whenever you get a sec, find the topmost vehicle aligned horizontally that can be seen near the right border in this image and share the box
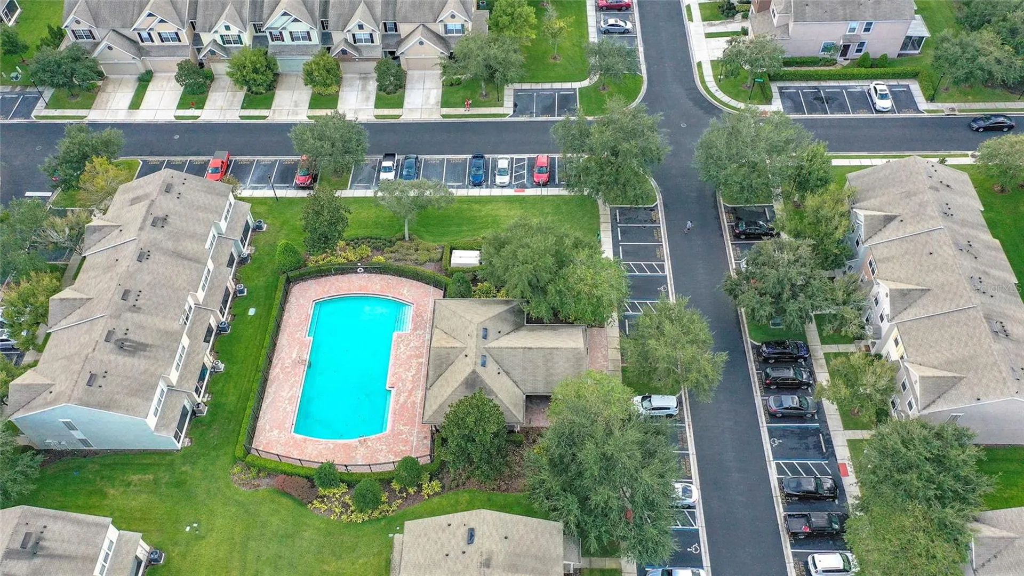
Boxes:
[970,115,1015,133]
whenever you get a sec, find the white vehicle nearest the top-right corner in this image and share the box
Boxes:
[866,85,892,113]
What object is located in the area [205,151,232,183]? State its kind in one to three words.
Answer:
truck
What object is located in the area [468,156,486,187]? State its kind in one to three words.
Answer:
car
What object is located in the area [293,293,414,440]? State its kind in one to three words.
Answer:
swimming pool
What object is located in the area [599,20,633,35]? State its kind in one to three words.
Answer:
car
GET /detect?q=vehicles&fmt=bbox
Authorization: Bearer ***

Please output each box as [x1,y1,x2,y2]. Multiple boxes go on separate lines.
[633,395,681,420]
[970,115,1015,133]
[764,394,819,419]
[777,474,841,503]
[599,20,633,35]
[732,221,779,241]
[493,158,511,188]
[662,486,702,509]
[762,365,815,390]
[294,158,314,190]
[598,0,631,13]
[533,155,551,186]
[866,85,892,113]
[400,154,420,180]
[468,156,486,187]
[378,153,399,186]
[643,561,707,576]
[205,151,232,183]
[800,549,862,576]
[778,512,847,541]
[758,340,810,364]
